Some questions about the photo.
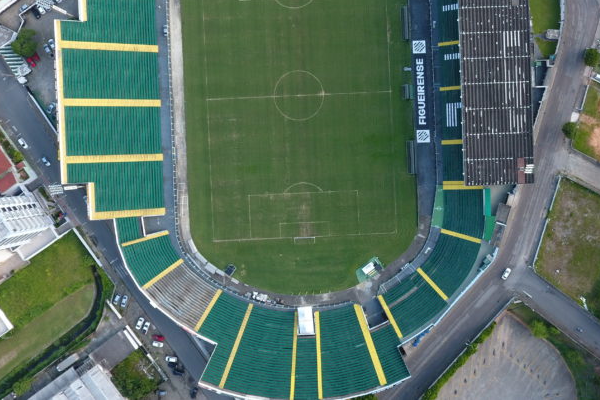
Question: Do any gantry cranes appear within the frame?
No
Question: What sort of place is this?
sports ground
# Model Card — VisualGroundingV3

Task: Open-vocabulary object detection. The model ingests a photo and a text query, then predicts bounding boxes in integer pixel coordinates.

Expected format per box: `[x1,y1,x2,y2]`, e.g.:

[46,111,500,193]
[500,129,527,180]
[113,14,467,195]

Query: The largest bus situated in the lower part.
[57,350,84,371]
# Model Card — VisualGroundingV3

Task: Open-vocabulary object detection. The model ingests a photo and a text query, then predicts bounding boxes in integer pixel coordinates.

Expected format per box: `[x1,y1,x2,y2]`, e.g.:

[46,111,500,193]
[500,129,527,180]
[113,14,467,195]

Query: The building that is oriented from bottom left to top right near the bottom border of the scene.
[31,364,82,400]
